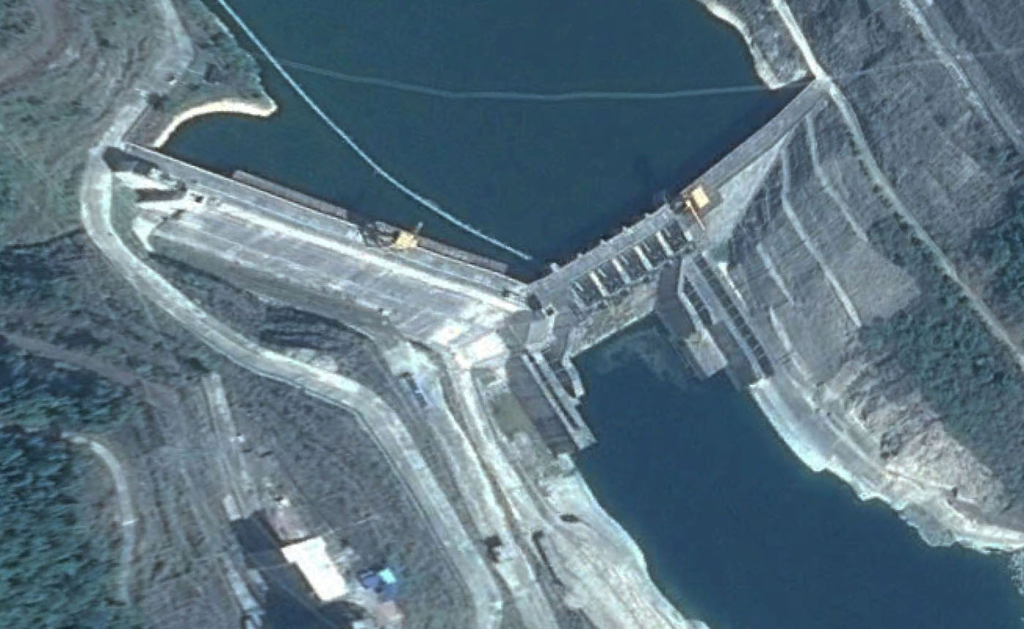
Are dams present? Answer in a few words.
Yes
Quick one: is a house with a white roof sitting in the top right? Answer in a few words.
No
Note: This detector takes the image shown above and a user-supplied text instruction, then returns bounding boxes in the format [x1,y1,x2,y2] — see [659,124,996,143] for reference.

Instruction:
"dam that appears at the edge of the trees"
[112,78,833,471]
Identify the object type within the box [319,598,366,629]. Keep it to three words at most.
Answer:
shed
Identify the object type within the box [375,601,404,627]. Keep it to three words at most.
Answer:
house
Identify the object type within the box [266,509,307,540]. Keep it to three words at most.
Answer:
house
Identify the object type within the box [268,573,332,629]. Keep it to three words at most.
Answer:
building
